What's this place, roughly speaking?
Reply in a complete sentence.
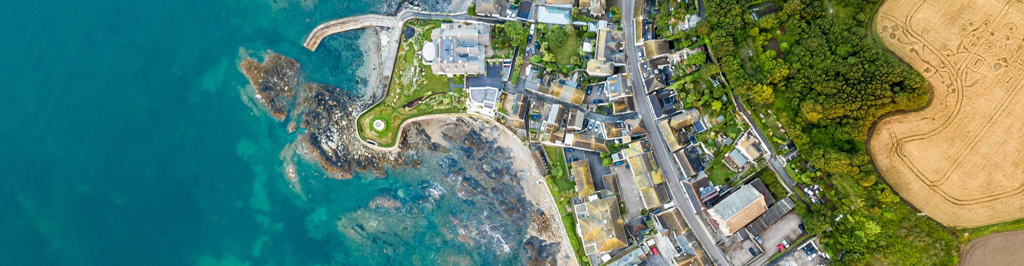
The area seen from above is a residential area.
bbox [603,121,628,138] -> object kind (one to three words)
house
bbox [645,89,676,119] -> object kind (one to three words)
house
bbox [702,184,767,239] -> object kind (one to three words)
building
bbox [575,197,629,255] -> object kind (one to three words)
building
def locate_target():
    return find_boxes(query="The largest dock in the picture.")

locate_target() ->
[304,14,396,52]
